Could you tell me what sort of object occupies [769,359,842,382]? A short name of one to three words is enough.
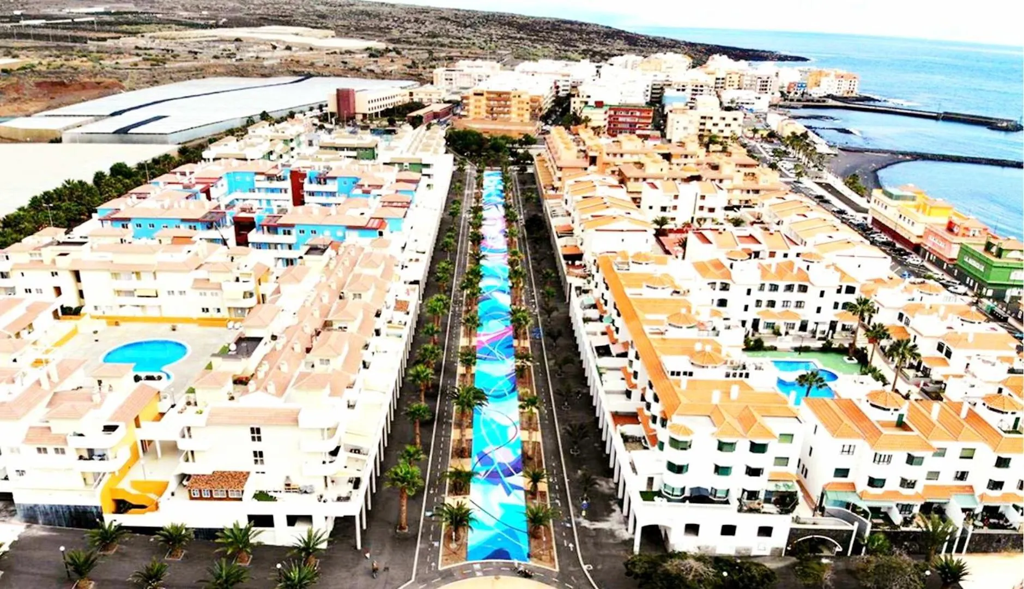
swimming pool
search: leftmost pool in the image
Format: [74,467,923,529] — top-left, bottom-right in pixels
[100,337,195,382]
